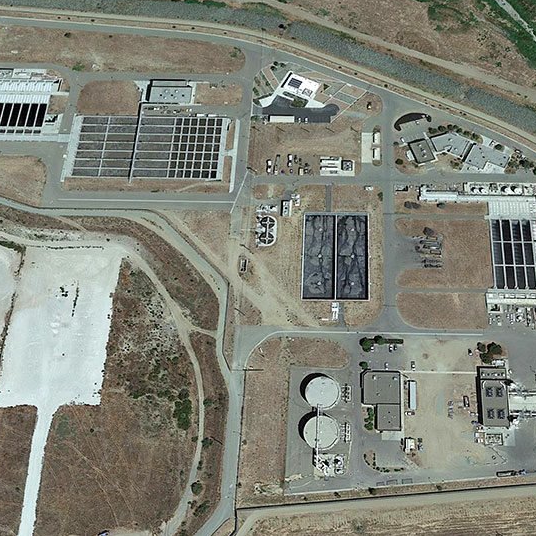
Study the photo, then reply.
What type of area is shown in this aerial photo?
industrial area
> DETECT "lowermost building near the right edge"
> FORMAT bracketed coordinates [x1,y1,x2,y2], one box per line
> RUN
[481,380,510,426]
